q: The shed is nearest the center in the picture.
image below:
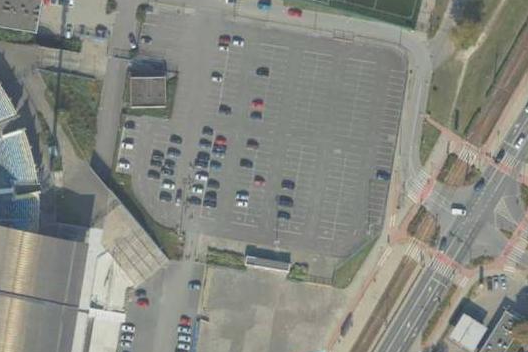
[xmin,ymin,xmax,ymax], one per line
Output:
[246,257,289,273]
